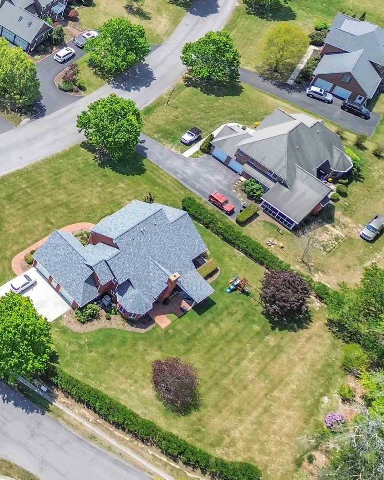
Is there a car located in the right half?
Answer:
Yes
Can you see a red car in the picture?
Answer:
Yes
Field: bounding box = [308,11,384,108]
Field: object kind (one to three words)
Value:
house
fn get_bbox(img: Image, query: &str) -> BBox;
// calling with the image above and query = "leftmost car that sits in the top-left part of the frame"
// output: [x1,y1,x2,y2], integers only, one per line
[52,47,77,62]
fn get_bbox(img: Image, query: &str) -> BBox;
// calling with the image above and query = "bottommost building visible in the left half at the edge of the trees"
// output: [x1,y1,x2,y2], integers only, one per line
[33,199,215,322]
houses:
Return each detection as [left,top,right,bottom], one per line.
[0,0,71,51]
[308,11,384,108]
[33,199,215,322]
[210,95,358,231]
